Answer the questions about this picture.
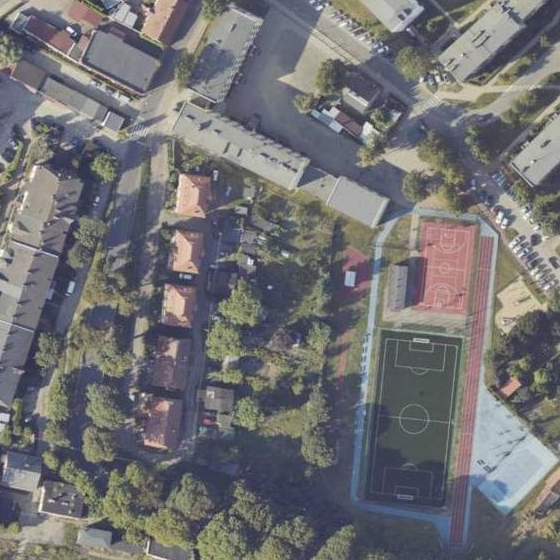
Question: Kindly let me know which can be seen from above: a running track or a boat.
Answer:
running track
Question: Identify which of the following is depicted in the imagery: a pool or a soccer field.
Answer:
soccer field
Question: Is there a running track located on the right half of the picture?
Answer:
Yes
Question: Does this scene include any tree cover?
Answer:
Yes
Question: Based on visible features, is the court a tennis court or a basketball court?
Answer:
basketball court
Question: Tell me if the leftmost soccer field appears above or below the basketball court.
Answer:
below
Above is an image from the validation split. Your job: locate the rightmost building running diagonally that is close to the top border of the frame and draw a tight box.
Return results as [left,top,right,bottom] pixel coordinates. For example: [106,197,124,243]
[438,4,525,85]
